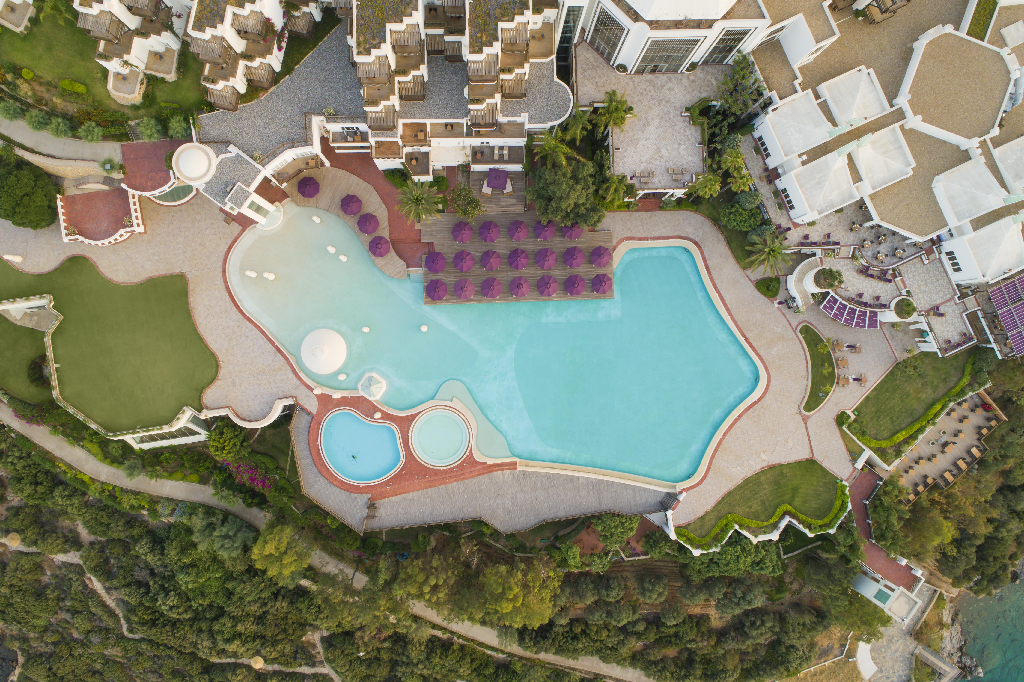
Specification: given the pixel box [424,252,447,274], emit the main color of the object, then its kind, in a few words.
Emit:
purple umbrella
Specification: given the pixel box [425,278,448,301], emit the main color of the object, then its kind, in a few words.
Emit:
purple umbrella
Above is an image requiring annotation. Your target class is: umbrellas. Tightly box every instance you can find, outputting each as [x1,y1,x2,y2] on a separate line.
[424,252,447,274]
[508,219,530,241]
[298,176,320,198]
[340,194,363,217]
[369,235,392,257]
[480,277,502,299]
[849,375,864,383]
[487,169,508,191]
[425,278,448,301]
[479,248,502,271]
[509,276,532,299]
[537,275,559,297]
[590,272,612,295]
[563,246,585,268]
[452,222,473,243]
[564,274,587,297]
[479,222,500,243]
[590,245,612,268]
[774,300,788,307]
[507,248,530,270]
[562,222,583,242]
[535,248,557,270]
[358,213,380,235]
[452,250,474,272]
[454,278,476,301]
